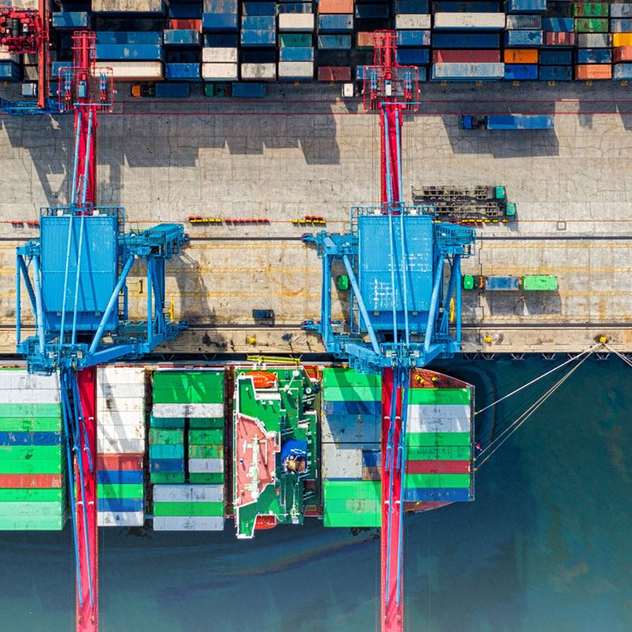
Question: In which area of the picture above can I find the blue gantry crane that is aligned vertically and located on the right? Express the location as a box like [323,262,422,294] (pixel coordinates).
[299,30,480,632]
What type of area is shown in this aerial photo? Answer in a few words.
port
